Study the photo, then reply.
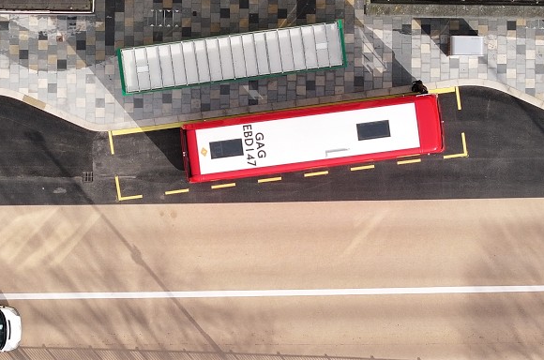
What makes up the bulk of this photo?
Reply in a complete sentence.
The bulk of the photo consists of paved ground.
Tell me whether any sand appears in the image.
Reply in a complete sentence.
No, the picture contains no sand.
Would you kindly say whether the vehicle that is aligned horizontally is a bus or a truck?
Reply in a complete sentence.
The vehicle that is aligned horizontally can be classified as a bus.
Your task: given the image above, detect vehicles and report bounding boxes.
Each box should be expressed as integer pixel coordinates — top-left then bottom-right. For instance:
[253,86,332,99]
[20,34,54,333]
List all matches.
[0,301,22,351]
[175,91,447,183]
